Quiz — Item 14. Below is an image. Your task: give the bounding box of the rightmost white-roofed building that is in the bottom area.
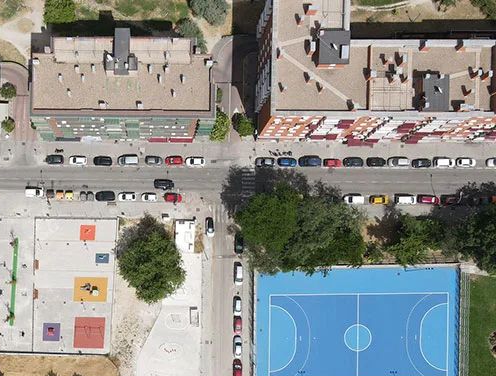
[176,220,195,254]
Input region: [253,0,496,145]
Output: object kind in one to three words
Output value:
building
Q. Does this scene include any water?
No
